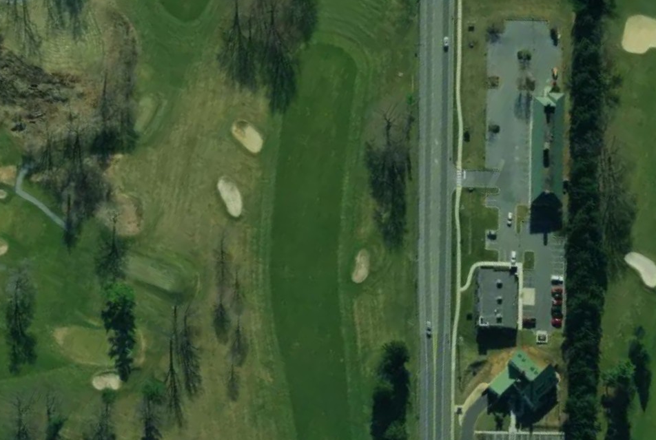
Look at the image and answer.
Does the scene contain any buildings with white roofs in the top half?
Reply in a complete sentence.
No, no building with a white roof appears in the top half.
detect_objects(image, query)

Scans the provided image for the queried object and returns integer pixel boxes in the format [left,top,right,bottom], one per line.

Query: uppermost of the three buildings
[531,82,564,203]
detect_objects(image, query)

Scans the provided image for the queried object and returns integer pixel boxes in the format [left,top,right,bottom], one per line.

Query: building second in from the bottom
[478,270,518,328]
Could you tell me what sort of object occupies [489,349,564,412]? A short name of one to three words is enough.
building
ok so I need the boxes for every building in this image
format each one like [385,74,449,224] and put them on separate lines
[489,349,564,412]
[531,82,564,203]
[478,270,518,328]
